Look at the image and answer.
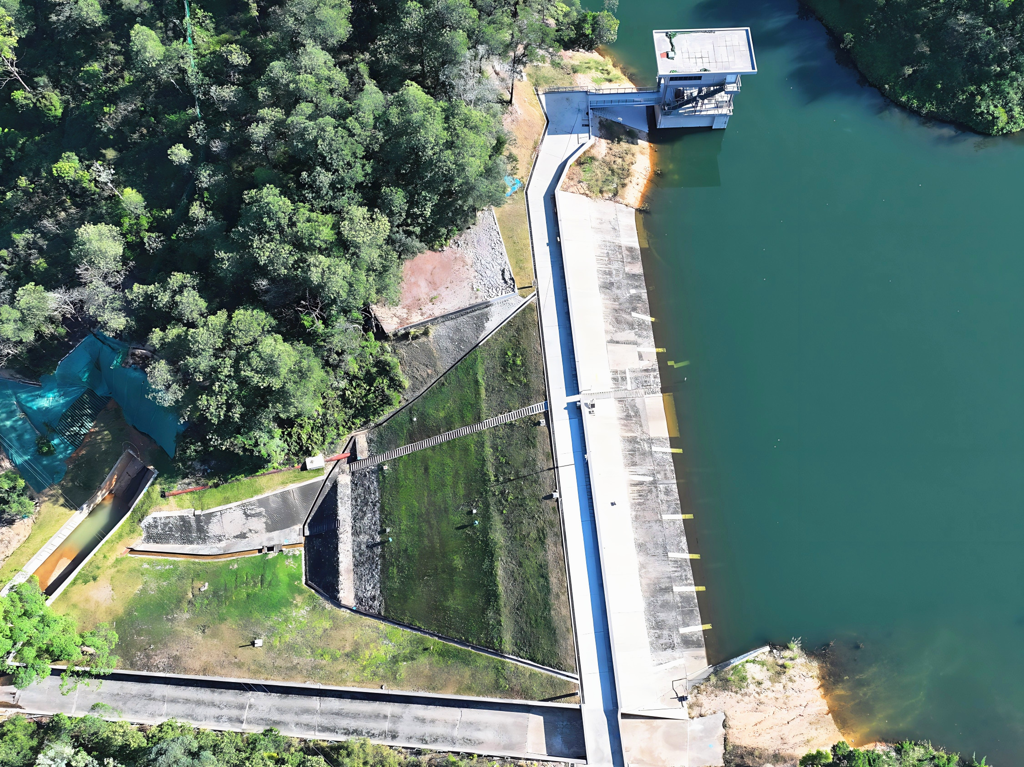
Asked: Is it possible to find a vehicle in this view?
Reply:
No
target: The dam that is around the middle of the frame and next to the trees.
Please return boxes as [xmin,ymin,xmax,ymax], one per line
[304,88,728,767]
